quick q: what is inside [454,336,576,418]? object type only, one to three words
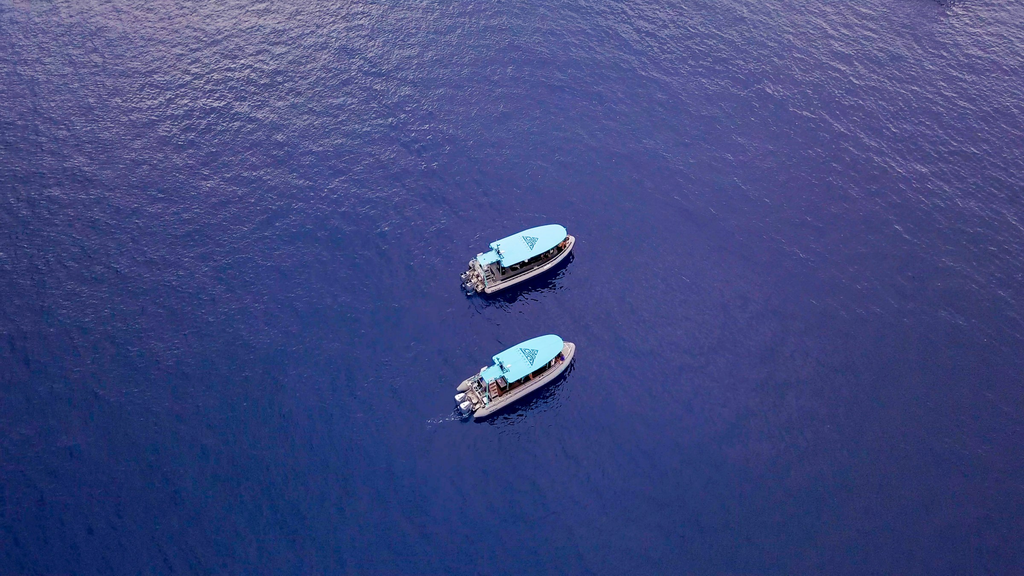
boat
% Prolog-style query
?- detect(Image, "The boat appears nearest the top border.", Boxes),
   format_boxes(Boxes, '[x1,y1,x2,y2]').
[460,225,575,295]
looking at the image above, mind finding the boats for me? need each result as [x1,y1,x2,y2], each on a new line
[460,225,575,295]
[454,336,576,418]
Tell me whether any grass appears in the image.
No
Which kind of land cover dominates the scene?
water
